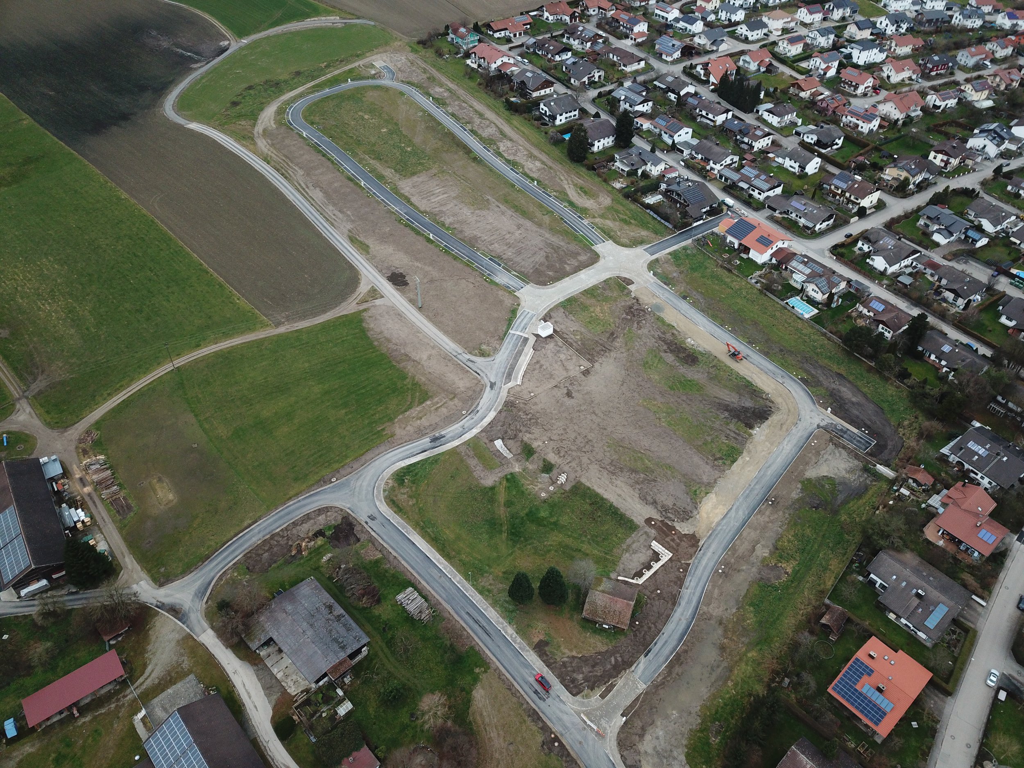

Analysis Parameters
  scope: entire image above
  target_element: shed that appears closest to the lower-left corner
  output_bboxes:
[22,650,135,745]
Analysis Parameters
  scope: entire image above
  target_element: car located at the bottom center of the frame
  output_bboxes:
[535,670,552,692]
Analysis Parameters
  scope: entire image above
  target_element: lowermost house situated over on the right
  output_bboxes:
[777,730,851,768]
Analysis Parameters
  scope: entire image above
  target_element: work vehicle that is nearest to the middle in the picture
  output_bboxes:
[725,339,744,361]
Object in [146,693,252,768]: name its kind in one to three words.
barn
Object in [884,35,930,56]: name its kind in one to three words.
house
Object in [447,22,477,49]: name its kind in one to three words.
house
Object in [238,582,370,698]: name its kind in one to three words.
barn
